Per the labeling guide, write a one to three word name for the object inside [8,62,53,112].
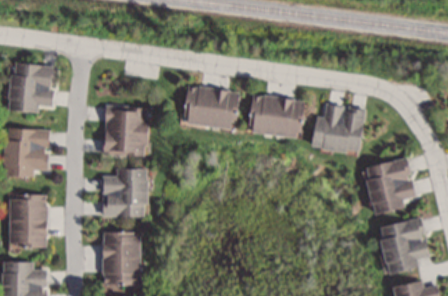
house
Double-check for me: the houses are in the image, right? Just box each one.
[103,168,150,218]
[8,194,47,256]
[363,158,415,215]
[8,62,53,112]
[103,232,141,292]
[180,84,241,132]
[5,128,50,178]
[380,219,430,274]
[312,102,367,158]
[2,262,47,296]
[250,94,305,141]
[105,107,149,156]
